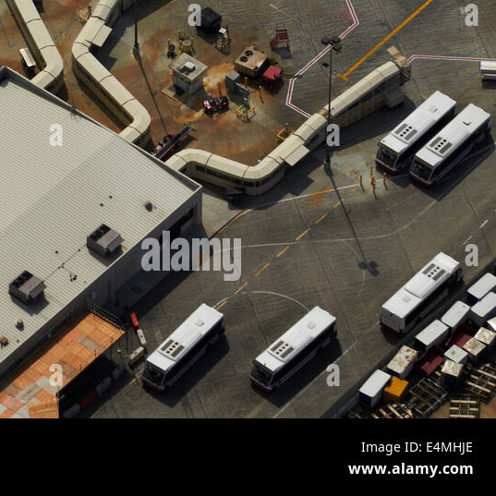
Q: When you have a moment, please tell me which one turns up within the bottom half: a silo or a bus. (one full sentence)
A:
You can see a bus within the bottom half.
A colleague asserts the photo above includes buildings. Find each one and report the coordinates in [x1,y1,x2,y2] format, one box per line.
[0,67,205,371]
[168,52,211,101]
